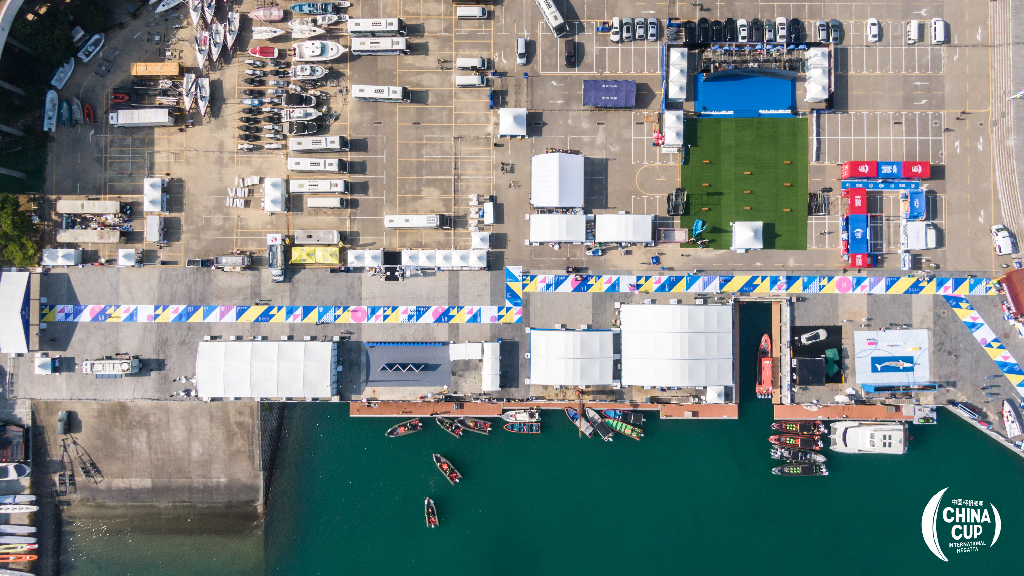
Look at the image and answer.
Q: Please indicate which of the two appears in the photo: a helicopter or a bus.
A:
bus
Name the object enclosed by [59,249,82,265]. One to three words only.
tent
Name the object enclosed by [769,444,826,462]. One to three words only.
boat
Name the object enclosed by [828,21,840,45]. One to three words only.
vehicle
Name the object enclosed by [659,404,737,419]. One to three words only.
pier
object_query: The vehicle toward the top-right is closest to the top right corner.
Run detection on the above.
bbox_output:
[928,20,944,46]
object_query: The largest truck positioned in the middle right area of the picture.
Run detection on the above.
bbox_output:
[893,220,931,249]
